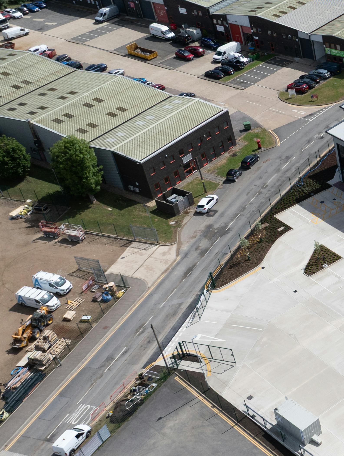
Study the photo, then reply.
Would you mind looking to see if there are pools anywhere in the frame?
No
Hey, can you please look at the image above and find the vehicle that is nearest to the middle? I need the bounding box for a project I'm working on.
[193,195,222,212]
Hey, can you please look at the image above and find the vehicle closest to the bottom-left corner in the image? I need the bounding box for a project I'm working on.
[49,426,94,456]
